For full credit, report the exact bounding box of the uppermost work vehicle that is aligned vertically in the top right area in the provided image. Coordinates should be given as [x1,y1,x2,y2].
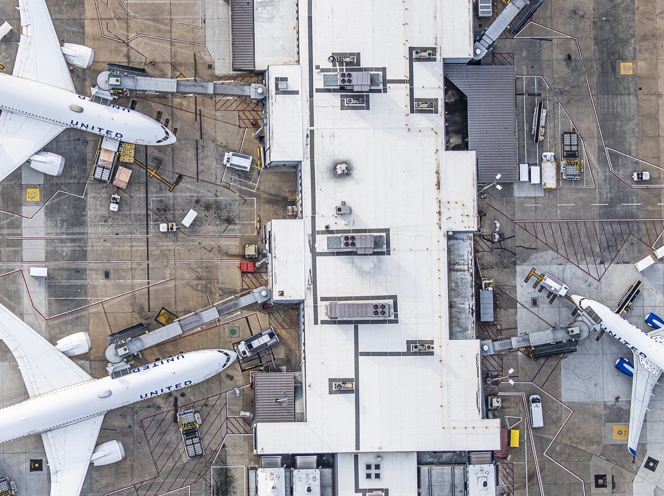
[530,99,544,145]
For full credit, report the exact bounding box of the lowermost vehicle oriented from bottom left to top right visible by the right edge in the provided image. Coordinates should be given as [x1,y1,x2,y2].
[614,276,643,316]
